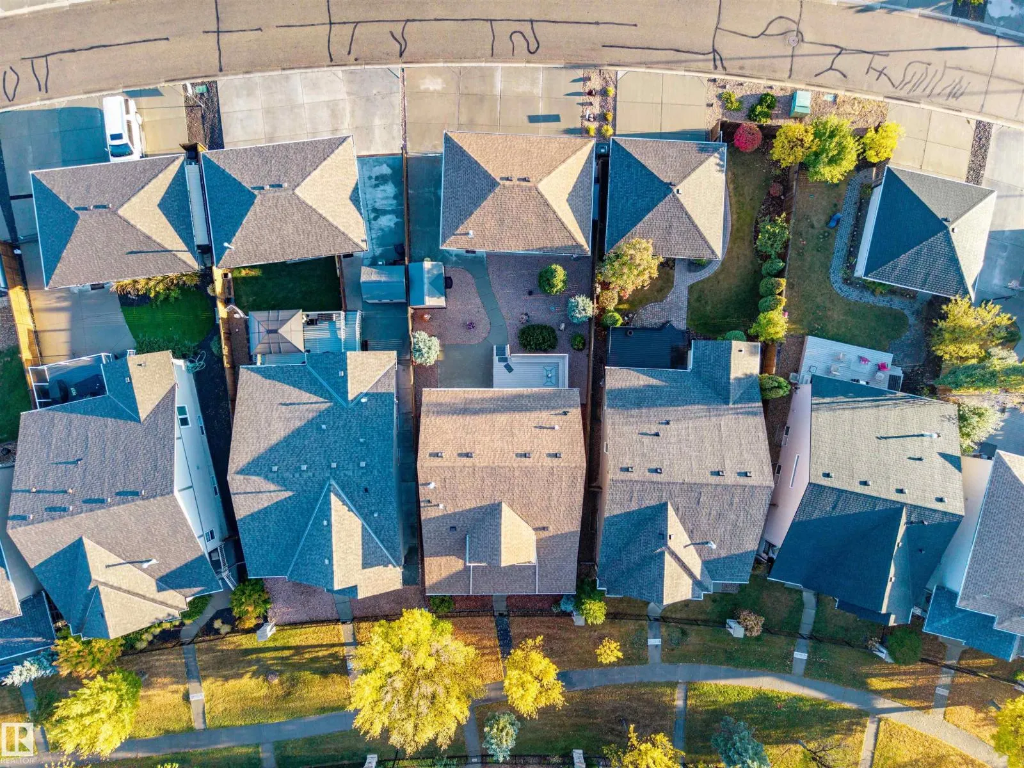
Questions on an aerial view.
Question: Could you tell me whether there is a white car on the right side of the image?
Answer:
No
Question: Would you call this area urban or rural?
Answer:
urban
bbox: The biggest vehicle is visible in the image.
[106,95,152,159]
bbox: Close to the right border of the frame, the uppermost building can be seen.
[852,165,998,302]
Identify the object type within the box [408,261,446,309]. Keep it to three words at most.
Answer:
shed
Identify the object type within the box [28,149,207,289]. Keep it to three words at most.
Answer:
building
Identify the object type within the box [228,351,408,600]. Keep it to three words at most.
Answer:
house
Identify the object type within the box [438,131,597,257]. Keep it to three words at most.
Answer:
building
